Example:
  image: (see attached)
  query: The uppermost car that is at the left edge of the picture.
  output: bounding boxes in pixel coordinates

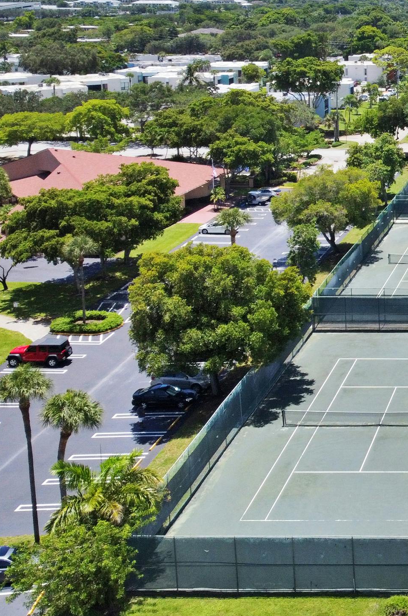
[10,339,73,368]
